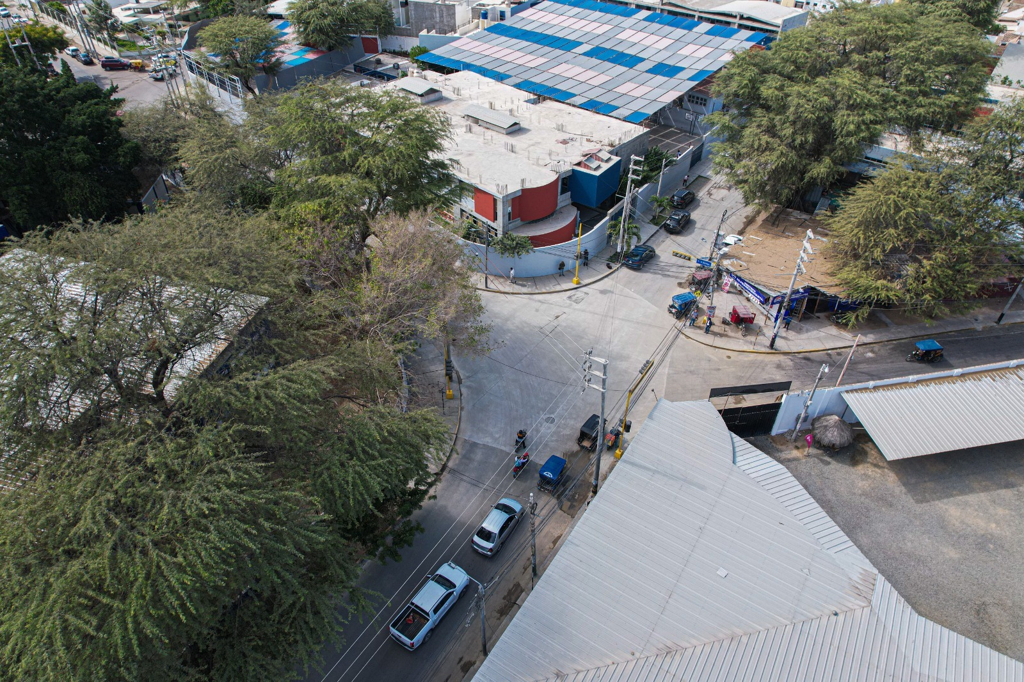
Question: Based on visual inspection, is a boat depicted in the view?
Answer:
No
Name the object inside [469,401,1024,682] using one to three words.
shed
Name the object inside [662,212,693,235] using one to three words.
car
